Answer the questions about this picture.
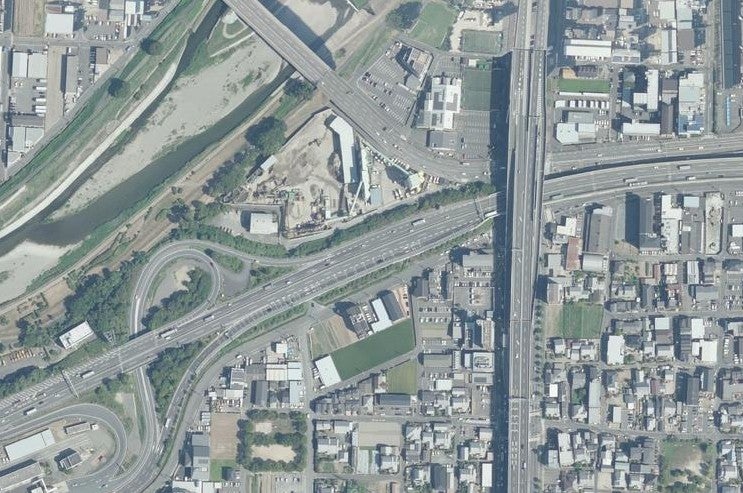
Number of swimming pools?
none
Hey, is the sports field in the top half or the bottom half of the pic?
bottom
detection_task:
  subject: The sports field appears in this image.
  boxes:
[332,319,415,381]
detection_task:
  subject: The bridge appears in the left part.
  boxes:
[222,0,348,94]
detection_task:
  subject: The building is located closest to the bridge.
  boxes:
[330,116,353,183]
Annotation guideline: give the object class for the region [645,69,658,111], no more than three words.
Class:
building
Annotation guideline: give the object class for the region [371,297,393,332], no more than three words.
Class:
building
